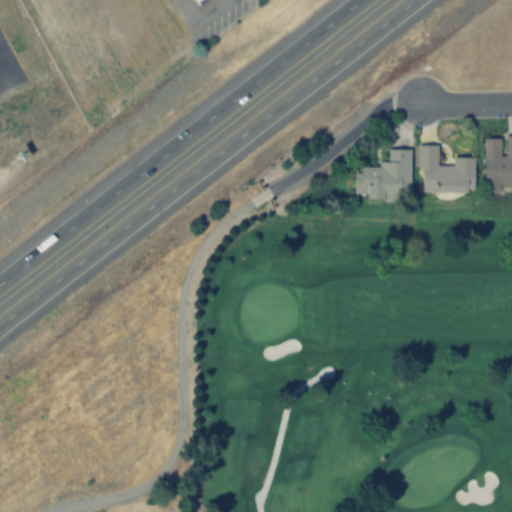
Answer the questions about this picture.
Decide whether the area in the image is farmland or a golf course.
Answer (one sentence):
This image shows a golf course.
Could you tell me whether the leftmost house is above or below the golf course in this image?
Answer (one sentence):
Looking at the scene, the leftmost house is located above the golf course.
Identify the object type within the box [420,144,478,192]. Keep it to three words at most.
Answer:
house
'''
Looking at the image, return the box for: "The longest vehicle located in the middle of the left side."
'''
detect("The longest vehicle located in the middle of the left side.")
[24,236,57,264]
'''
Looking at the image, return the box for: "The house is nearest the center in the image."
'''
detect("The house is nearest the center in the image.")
[357,149,414,202]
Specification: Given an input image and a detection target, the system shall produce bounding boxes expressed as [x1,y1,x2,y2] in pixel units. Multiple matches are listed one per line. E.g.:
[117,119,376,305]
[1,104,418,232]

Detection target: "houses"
[420,144,478,192]
[357,149,414,202]
[486,136,512,192]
